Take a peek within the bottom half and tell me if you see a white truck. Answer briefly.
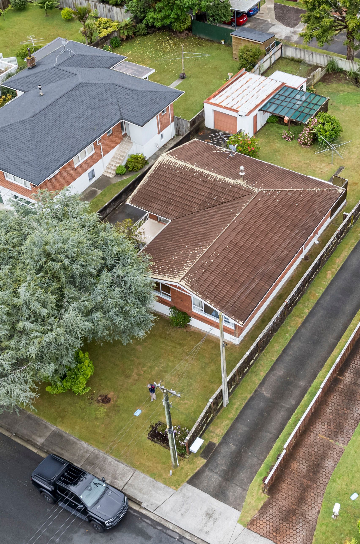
No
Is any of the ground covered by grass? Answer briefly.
Yes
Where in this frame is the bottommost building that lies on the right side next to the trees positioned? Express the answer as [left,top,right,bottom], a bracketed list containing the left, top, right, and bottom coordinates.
[115,140,351,346]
